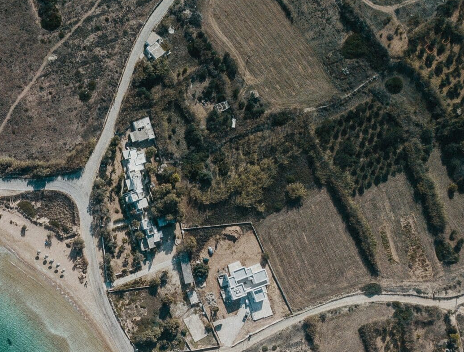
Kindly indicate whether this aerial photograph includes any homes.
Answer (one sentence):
Yes, the image includes a home.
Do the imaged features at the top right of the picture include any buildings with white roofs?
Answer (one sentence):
No, there's no building with a white roof to be seen at the top right of the picture.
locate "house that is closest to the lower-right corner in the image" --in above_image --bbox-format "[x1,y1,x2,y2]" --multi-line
[217,261,273,321]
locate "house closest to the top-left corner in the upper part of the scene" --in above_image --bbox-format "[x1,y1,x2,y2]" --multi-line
[145,31,170,62]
